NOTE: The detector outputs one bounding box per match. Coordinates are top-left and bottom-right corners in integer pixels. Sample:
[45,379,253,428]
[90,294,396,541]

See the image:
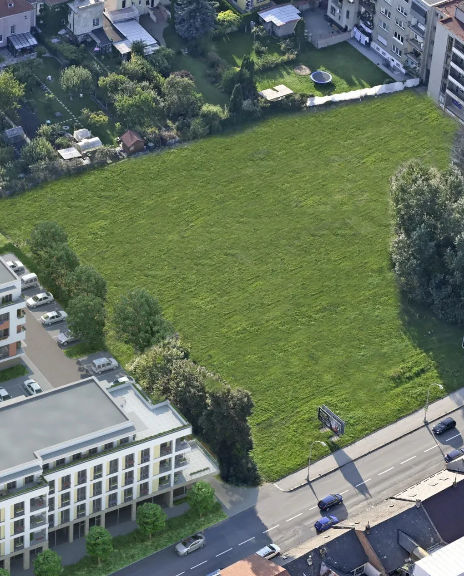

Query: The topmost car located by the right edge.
[429,416,459,437]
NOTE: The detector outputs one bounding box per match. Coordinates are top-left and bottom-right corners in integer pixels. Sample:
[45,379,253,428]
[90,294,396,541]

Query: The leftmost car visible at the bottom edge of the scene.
[173,535,206,556]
